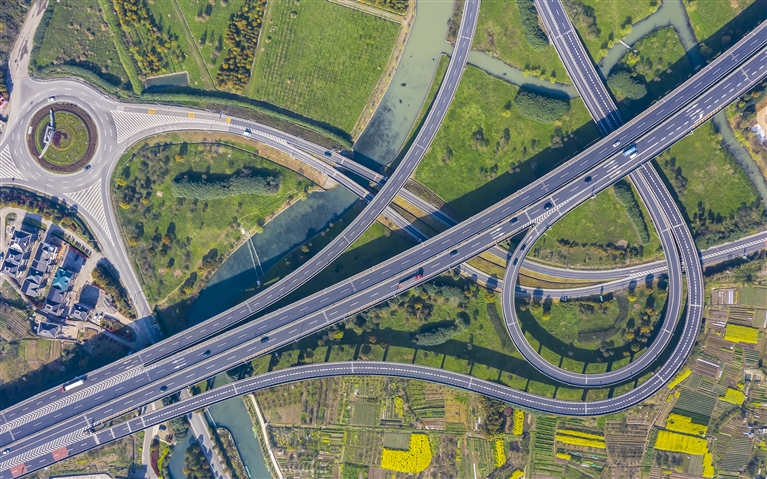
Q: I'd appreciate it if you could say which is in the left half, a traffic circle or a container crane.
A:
traffic circle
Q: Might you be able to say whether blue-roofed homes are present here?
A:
Yes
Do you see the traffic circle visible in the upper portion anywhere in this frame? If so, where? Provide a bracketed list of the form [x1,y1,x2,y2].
[26,101,99,175]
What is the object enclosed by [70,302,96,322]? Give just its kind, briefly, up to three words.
house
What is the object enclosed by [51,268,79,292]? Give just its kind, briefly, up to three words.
house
